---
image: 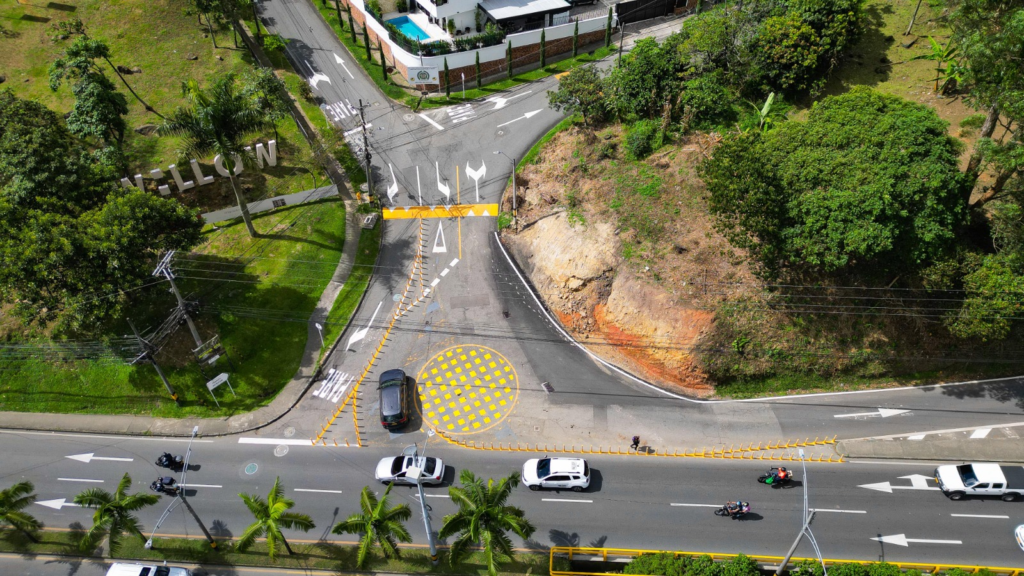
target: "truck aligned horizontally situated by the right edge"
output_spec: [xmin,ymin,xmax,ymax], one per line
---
[939,463,1024,502]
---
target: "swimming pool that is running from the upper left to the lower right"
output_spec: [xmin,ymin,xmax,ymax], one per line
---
[389,13,435,41]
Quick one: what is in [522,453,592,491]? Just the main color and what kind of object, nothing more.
white car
